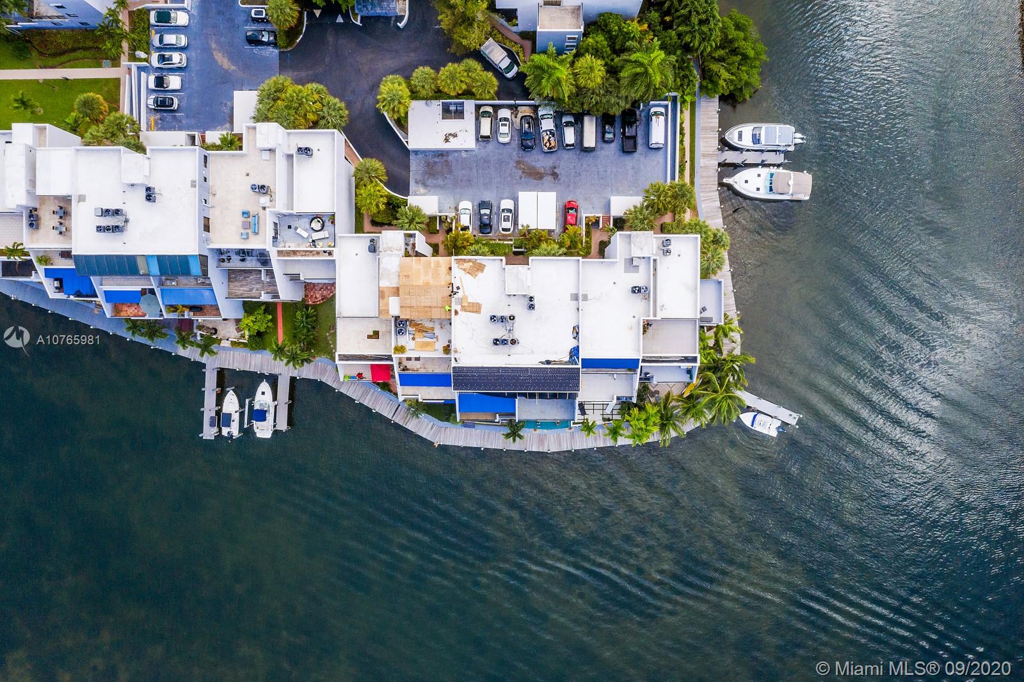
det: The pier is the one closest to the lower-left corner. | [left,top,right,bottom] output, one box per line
[203,362,217,439]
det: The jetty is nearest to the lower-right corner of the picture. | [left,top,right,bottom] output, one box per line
[731,390,800,425]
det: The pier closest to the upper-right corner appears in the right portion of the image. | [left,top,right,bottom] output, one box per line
[717,151,784,164]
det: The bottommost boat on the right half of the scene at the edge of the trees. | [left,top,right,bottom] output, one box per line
[740,415,787,440]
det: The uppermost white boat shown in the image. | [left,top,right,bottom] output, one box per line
[723,122,804,150]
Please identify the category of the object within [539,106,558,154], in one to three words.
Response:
vehicle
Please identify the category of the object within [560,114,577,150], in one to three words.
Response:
car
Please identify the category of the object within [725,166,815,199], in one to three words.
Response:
boat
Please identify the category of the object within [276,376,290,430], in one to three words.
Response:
pier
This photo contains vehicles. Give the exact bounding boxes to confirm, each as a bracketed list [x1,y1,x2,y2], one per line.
[519,115,536,152]
[245,6,268,23]
[648,107,667,149]
[498,199,515,235]
[148,94,180,111]
[564,200,579,233]
[580,114,598,153]
[151,11,190,28]
[621,109,639,154]
[458,200,474,235]
[601,113,617,144]
[152,32,189,50]
[539,106,558,154]
[148,74,183,91]
[496,109,512,145]
[478,200,494,235]
[151,50,188,69]
[478,105,495,142]
[560,114,577,150]
[245,28,279,47]
[480,33,519,78]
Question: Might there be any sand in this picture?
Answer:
No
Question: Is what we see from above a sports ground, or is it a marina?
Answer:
marina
